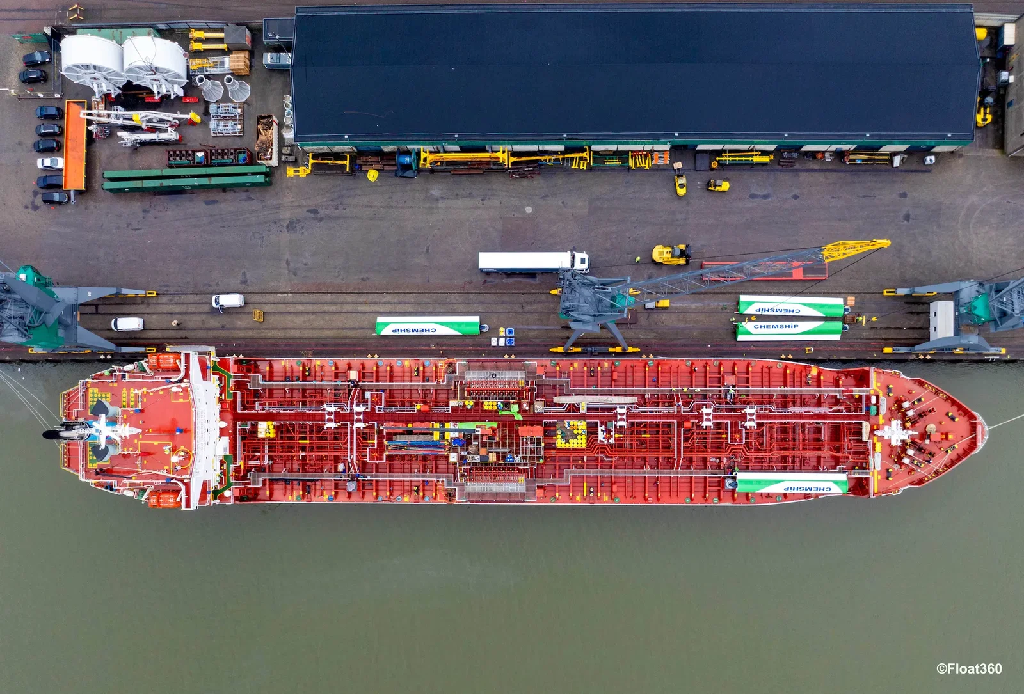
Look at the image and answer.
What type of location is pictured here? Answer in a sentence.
The picture captures a port.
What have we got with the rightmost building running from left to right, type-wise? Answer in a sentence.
Specifically, the rightmost building running from left to right is a warehouse.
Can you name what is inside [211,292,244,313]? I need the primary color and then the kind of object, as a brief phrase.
white vehicle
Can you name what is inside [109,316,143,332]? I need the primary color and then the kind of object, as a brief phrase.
white vehicle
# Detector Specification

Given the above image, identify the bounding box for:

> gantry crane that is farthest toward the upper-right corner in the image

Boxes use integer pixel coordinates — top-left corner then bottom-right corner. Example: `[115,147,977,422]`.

[888,273,1024,353]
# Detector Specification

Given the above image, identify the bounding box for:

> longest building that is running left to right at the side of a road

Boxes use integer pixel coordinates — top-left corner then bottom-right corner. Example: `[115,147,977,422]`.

[291,5,980,158]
